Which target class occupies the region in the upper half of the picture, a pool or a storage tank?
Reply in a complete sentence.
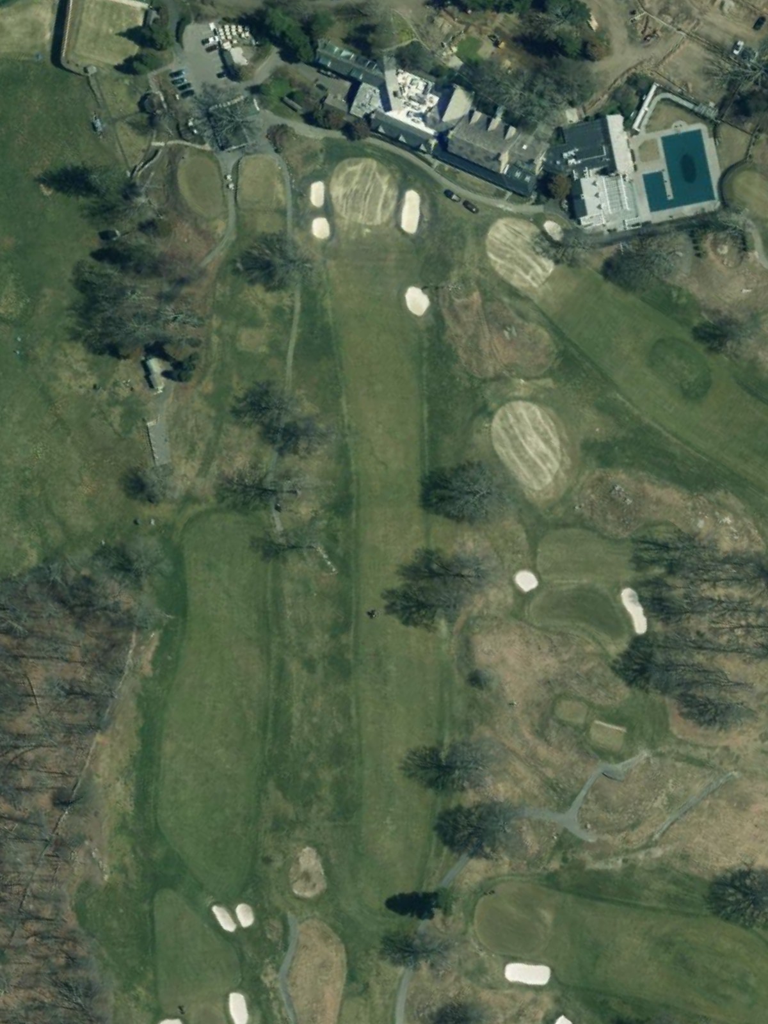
What appears in the upper half of the picture is a pool.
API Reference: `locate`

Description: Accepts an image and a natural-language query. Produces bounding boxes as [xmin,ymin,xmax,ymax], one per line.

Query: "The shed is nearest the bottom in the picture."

[148,357,164,395]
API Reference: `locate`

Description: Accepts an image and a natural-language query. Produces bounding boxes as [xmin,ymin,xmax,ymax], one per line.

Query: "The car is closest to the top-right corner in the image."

[753,15,765,30]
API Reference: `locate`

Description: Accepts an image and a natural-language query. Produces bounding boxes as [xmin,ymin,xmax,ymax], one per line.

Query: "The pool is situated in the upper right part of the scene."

[629,121,722,224]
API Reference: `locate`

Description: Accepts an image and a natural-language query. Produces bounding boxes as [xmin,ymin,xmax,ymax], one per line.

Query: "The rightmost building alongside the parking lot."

[315,39,549,196]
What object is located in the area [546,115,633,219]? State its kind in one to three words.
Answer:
building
